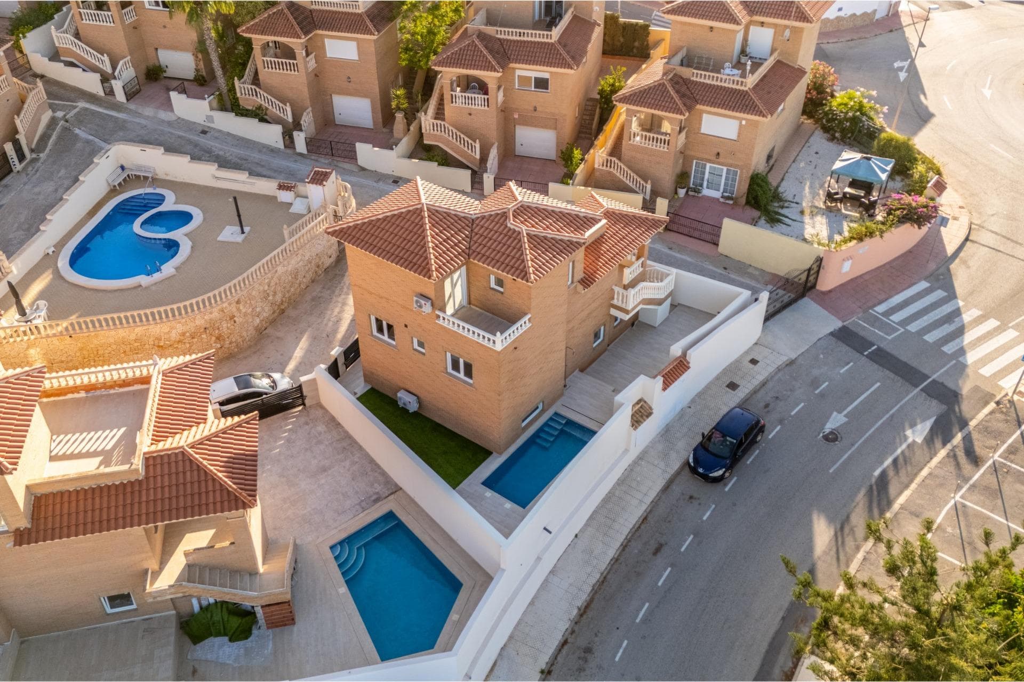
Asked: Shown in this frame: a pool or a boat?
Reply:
pool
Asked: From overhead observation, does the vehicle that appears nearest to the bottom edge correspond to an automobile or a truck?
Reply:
automobile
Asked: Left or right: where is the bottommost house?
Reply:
left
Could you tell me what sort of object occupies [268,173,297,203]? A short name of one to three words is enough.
building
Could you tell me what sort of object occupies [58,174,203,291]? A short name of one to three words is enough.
swimming pool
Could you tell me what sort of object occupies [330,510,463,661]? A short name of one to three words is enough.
swimming pool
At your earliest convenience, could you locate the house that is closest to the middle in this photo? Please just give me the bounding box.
[322,173,678,455]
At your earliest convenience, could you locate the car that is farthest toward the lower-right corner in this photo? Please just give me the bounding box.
[689,409,764,488]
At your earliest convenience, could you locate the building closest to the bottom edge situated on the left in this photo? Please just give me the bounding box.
[0,346,298,681]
